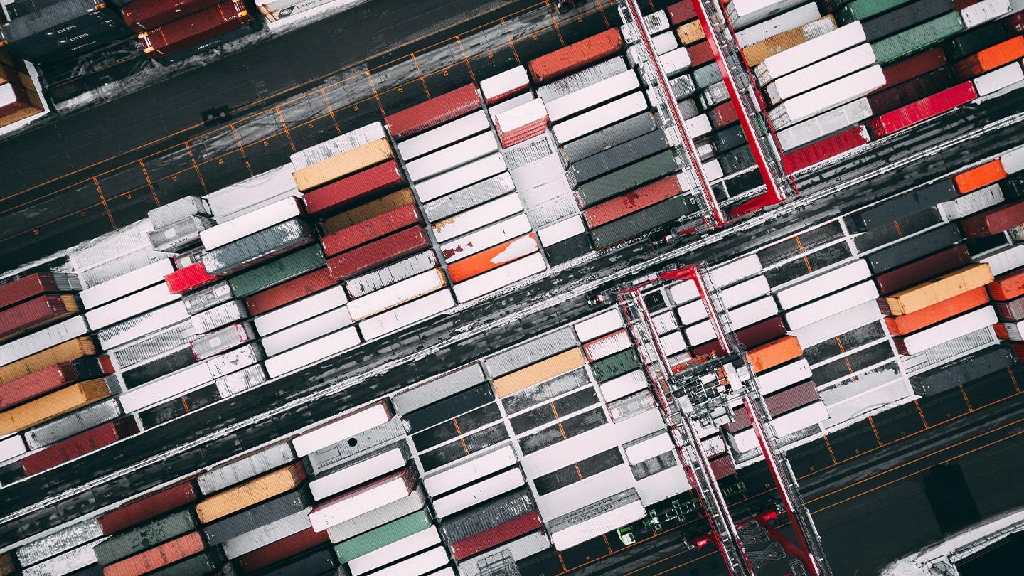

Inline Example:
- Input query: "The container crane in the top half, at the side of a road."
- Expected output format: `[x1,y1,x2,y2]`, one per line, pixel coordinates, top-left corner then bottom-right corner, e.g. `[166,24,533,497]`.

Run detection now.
[554,0,804,252]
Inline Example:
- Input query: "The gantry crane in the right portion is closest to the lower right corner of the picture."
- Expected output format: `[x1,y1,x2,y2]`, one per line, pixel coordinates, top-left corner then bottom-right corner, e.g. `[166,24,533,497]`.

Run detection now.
[582,255,846,576]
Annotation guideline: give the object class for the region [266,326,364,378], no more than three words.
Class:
shipping container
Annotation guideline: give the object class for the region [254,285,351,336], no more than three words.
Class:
shipping container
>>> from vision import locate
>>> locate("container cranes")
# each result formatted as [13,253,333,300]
[554,0,804,252]
[582,255,846,576]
